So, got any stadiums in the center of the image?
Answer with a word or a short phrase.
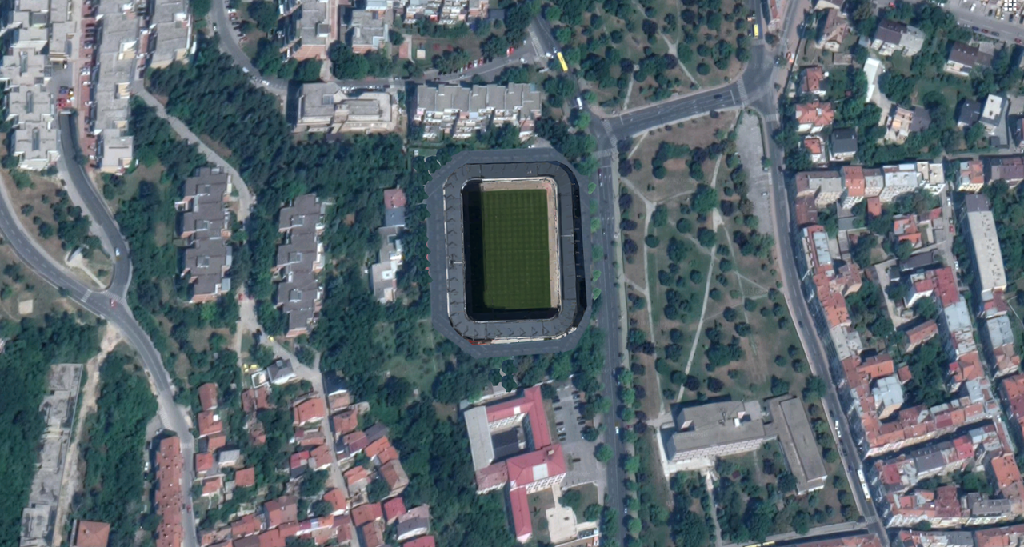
Yes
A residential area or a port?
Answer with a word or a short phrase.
residential area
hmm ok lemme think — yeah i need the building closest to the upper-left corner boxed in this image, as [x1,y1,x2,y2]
[12,0,48,51]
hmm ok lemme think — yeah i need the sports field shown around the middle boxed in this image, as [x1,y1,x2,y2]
[482,189,550,310]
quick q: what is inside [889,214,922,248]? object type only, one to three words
house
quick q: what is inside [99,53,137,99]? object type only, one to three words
building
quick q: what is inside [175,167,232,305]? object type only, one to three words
building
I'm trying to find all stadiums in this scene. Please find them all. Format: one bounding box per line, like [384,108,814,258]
[425,149,591,358]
